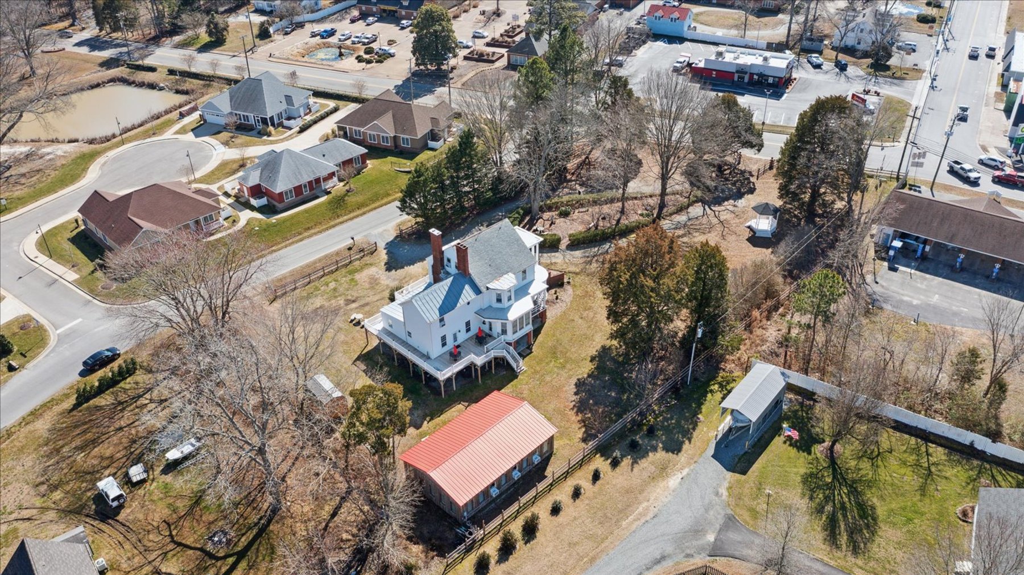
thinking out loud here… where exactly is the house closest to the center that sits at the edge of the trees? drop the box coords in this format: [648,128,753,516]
[361,215,565,399]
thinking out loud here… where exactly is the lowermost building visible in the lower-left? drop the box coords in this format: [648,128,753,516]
[4,536,100,575]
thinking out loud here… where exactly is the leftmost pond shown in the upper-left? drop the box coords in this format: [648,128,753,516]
[0,84,187,141]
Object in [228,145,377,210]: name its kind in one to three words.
house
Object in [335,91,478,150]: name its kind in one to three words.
house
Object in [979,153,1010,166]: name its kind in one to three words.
vehicle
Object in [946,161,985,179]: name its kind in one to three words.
vehicle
